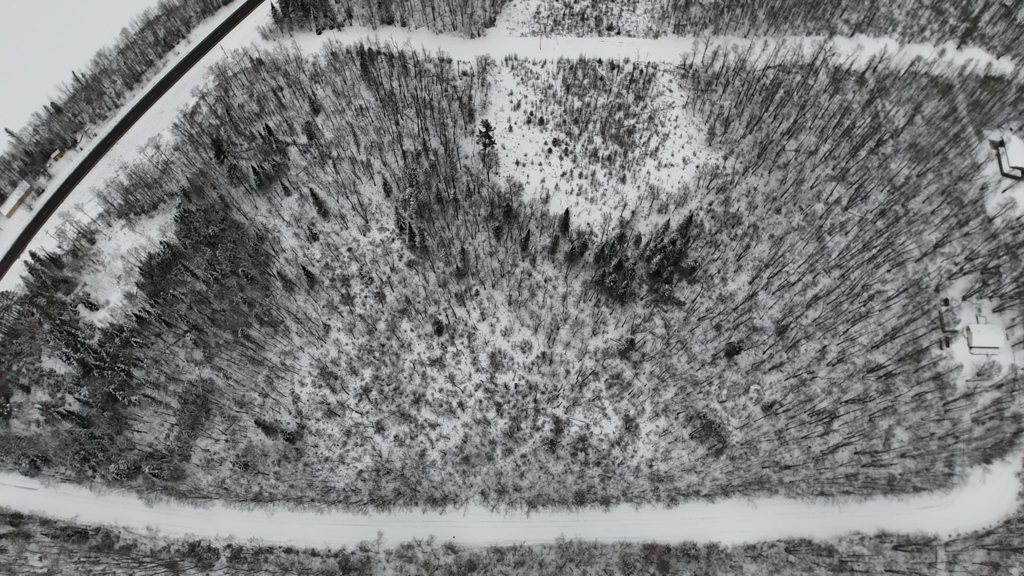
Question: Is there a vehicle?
No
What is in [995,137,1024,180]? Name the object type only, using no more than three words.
house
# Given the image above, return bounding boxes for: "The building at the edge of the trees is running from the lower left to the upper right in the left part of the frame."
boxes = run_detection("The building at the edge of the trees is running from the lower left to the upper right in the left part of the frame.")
[0,178,33,227]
